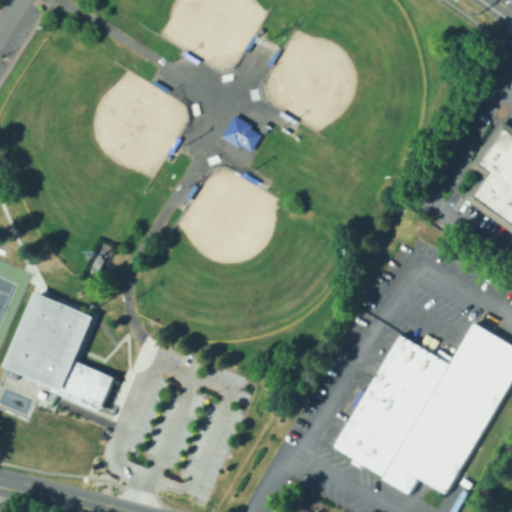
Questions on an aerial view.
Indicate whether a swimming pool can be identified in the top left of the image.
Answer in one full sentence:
No, the scene shows no swimming pool in the top left of the image.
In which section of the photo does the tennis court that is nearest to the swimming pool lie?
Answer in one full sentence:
The tennis court that is nearest to the swimming pool is located in the left region of the scene.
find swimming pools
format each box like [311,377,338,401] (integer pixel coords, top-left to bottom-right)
[1,389,32,414]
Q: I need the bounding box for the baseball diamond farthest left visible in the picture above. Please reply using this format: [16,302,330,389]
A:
[0,36,190,272]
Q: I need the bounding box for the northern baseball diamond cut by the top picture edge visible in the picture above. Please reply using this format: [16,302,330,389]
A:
[159,0,270,70]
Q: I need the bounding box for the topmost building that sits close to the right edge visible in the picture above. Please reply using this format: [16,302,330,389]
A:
[474,132,512,224]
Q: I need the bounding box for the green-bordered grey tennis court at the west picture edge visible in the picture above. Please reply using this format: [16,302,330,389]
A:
[0,262,30,350]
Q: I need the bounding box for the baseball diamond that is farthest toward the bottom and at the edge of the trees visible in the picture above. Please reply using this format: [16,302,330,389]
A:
[140,166,340,344]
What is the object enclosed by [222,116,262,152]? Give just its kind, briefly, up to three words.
building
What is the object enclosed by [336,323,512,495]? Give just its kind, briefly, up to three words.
building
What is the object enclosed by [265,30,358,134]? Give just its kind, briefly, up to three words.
baseball field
